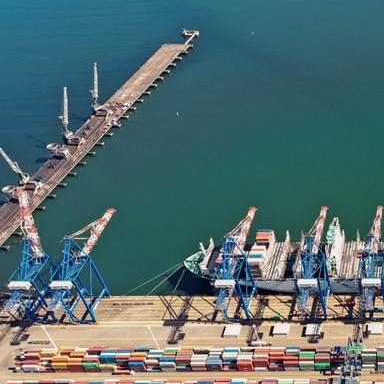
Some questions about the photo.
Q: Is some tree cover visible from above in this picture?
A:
No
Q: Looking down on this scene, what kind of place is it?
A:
port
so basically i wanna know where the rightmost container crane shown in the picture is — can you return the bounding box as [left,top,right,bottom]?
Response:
[356,203,384,322]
